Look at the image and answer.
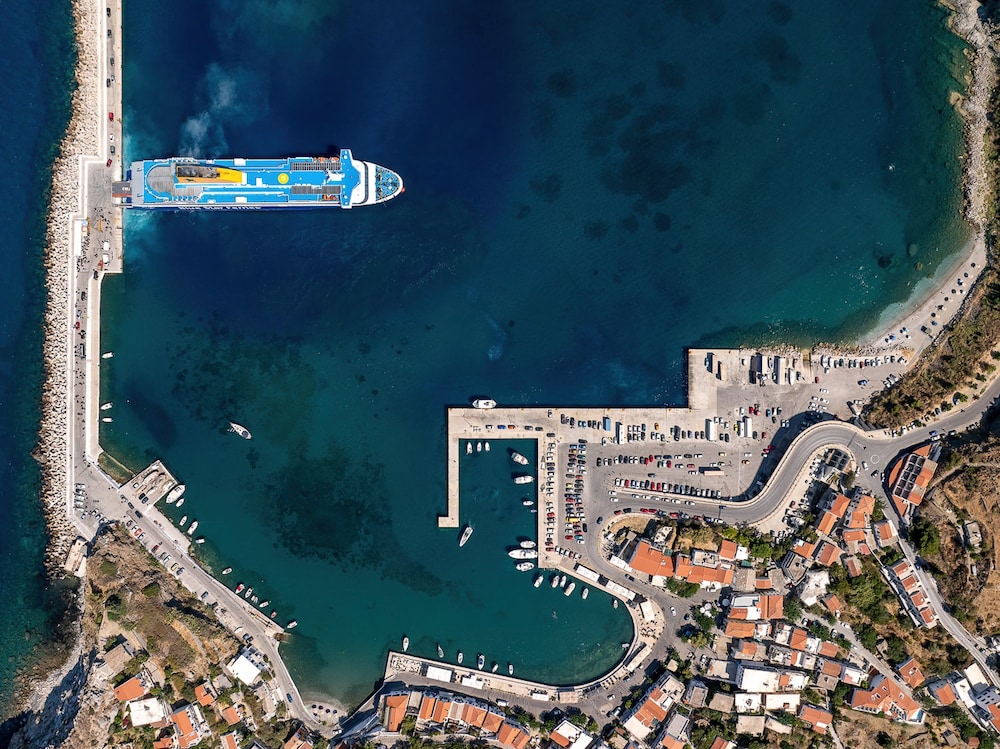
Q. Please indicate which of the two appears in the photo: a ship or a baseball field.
ship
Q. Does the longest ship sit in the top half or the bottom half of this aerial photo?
top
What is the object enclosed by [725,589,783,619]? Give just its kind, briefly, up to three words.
building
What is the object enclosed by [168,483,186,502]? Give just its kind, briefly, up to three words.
boat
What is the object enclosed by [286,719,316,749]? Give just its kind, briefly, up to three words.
house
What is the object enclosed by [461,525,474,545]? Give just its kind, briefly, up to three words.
boat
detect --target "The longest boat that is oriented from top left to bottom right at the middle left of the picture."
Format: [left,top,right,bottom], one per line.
[229,424,251,439]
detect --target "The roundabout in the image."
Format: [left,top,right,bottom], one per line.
[852,439,896,484]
